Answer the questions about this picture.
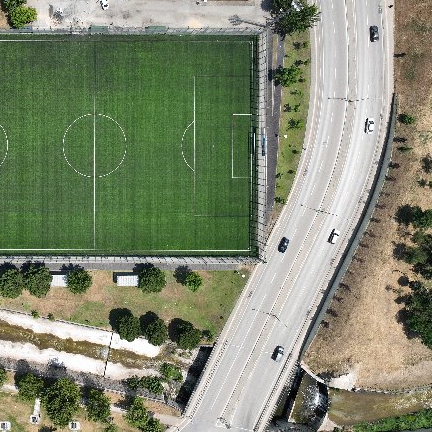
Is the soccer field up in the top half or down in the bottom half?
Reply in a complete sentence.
Seen from above, the soccer field lies in the top half of the view.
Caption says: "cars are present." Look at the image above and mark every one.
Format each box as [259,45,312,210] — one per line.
[273,346,284,361]
[370,26,379,42]
[365,118,374,133]
[279,237,290,253]
[329,228,339,244]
